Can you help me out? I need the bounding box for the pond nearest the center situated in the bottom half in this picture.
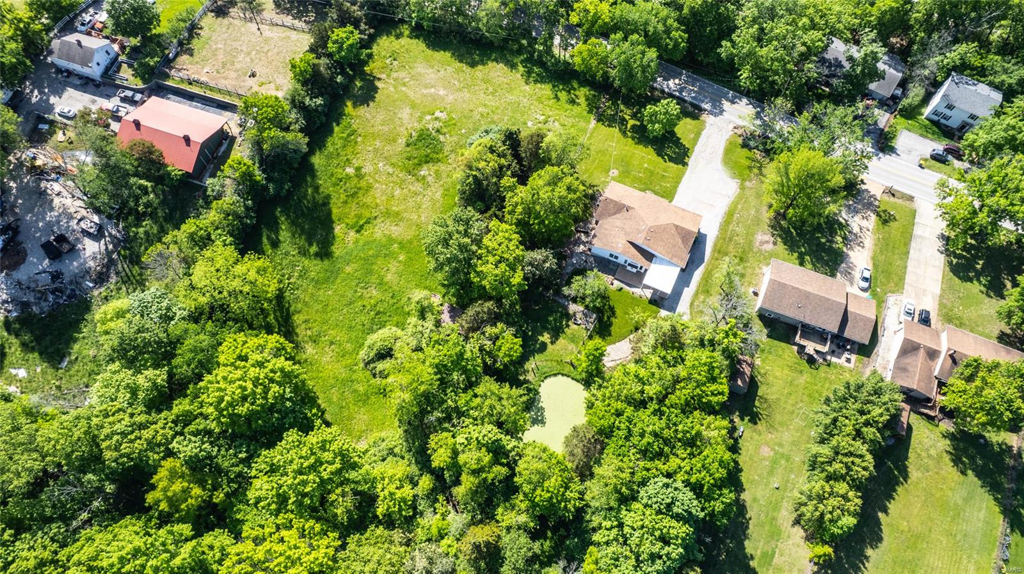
[504,377,588,454]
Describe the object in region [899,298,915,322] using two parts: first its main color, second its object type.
white car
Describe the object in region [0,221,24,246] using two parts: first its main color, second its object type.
black work vehicle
